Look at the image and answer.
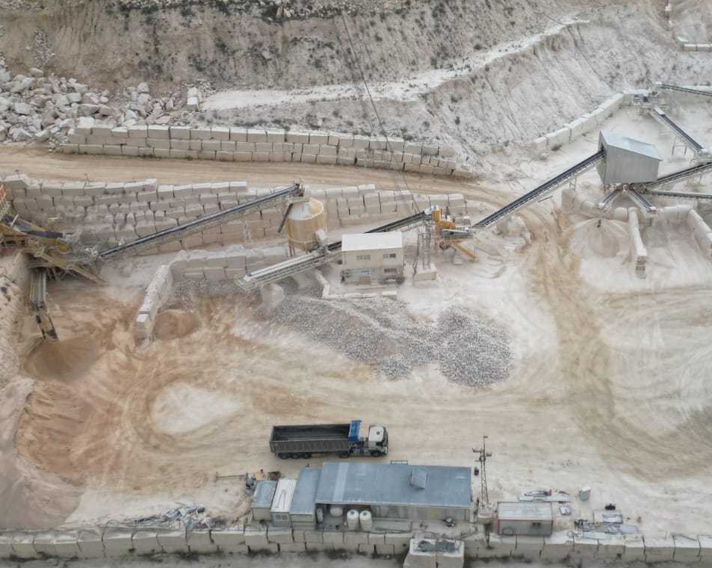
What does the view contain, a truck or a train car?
truck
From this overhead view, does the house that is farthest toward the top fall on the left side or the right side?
right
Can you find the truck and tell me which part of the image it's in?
bottom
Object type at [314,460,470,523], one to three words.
shed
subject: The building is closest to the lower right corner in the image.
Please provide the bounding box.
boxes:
[496,498,554,535]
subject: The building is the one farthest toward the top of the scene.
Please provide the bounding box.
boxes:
[589,129,662,203]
